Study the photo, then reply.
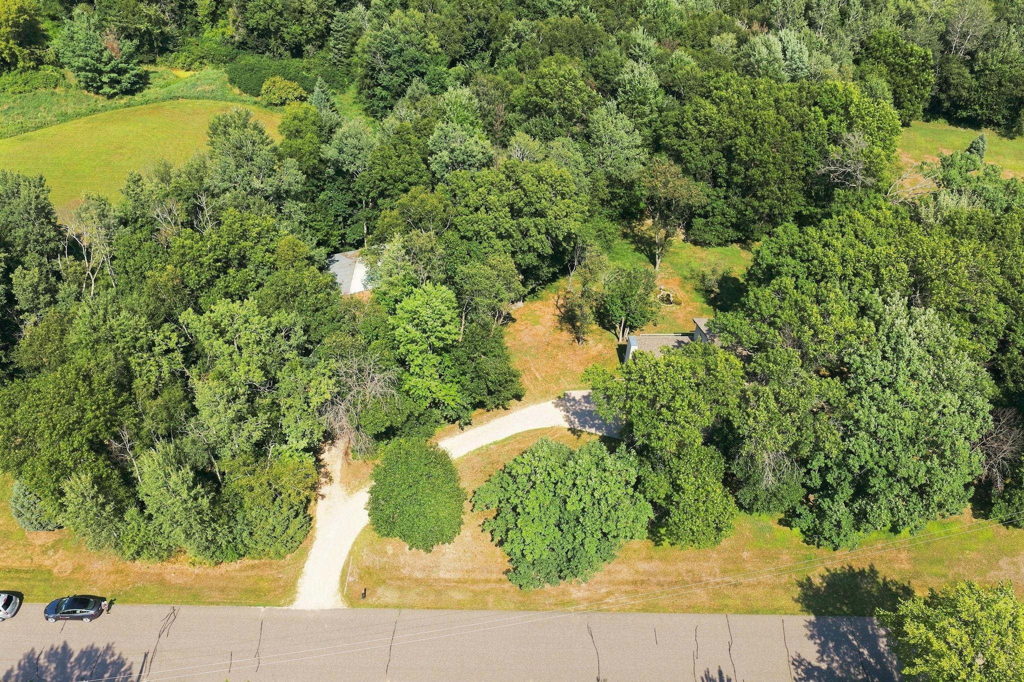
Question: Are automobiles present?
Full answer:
Yes, there is an automobile in the image.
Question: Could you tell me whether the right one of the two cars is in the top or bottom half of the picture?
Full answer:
It is in the bottom half that the right one of the two cars appears.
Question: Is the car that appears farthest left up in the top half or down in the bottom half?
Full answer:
It is in the bottom half that the car that appears farthest left appears.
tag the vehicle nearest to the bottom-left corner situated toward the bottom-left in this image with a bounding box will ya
[0,594,22,622]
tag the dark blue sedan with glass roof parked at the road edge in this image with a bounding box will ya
[43,593,104,624]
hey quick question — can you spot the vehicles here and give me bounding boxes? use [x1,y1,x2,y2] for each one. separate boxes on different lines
[0,594,22,622]
[43,593,104,624]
